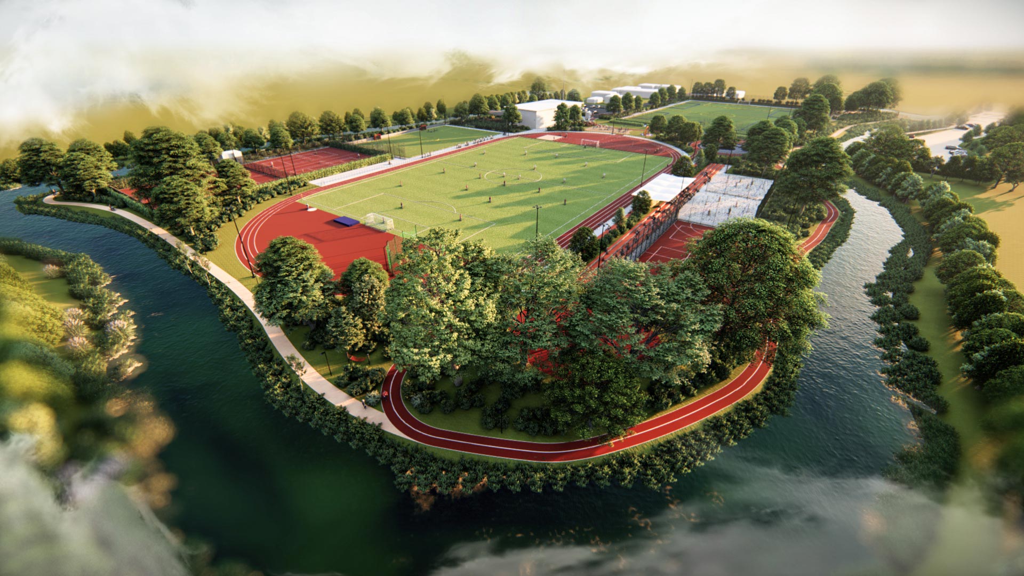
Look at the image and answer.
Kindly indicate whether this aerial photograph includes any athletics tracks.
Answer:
Yes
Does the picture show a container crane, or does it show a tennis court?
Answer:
tennis court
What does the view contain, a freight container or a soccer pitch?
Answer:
soccer pitch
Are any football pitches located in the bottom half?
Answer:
No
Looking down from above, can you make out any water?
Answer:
Yes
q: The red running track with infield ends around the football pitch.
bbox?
[228,131,684,298]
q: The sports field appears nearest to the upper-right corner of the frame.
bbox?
[628,101,794,141]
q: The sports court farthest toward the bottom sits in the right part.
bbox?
[616,221,748,297]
